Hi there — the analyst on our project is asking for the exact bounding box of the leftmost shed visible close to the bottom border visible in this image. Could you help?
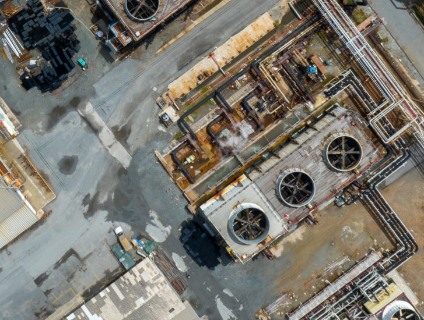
[64,249,186,320]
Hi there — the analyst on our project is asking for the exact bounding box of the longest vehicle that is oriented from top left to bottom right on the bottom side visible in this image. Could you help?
[113,226,138,257]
